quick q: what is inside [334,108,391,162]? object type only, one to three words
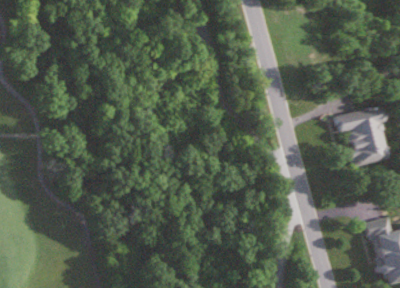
house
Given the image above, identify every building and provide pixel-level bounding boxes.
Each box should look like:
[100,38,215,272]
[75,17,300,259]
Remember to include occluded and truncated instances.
[366,218,400,287]
[334,108,391,162]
